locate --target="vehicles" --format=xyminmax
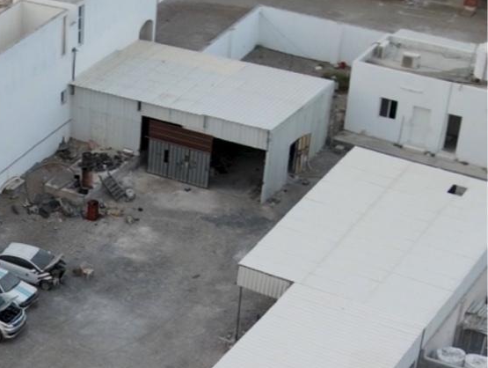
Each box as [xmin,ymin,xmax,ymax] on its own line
[0,269,40,310]
[0,297,29,341]
[0,243,68,288]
